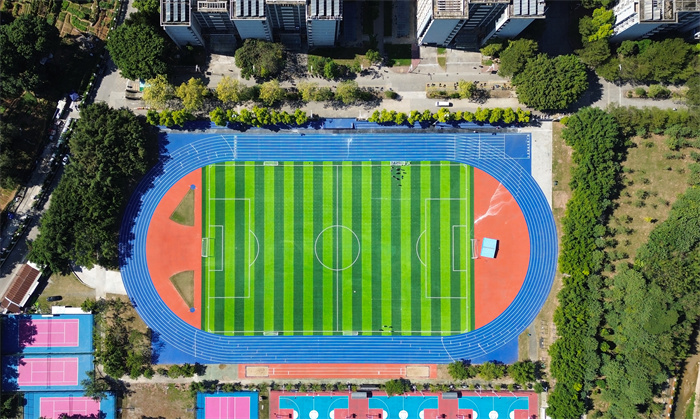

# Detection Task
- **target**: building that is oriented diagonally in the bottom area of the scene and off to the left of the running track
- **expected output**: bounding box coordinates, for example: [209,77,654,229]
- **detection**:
[0,258,50,315]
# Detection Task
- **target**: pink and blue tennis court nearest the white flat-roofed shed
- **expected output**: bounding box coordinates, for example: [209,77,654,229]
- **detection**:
[1,314,93,353]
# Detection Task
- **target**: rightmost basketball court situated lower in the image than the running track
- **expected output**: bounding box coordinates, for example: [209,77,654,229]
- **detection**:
[458,396,528,419]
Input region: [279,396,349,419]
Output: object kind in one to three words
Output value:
basketball court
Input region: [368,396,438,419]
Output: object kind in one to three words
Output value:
basketball court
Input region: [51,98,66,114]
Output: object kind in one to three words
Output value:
vehicle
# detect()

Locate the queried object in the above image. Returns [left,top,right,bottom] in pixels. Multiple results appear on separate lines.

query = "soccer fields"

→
[202,161,474,336]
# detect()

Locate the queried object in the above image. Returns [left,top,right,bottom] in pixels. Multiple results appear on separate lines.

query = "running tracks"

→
[120,133,557,364]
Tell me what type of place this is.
sports ground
